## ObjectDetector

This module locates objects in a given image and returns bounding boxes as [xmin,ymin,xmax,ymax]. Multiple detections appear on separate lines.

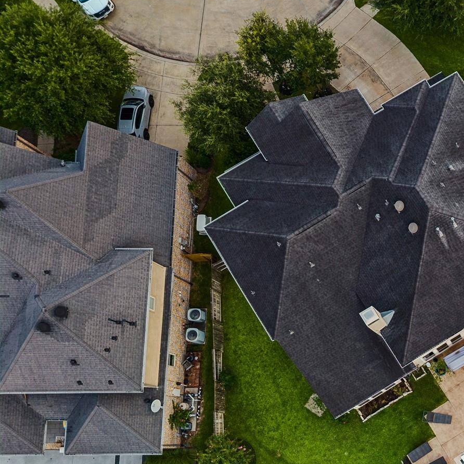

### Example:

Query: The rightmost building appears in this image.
[203,72,464,419]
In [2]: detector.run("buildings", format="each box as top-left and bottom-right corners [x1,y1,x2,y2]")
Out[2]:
[0,121,197,457]
[203,72,464,419]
